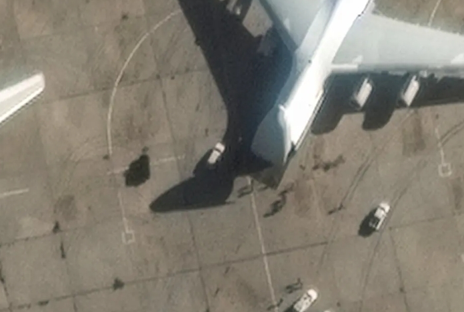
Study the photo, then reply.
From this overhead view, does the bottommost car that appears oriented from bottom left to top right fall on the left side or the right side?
right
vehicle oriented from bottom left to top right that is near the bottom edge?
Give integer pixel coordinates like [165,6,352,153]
[295,288,320,312]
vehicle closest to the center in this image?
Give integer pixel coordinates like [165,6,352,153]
[207,138,226,168]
